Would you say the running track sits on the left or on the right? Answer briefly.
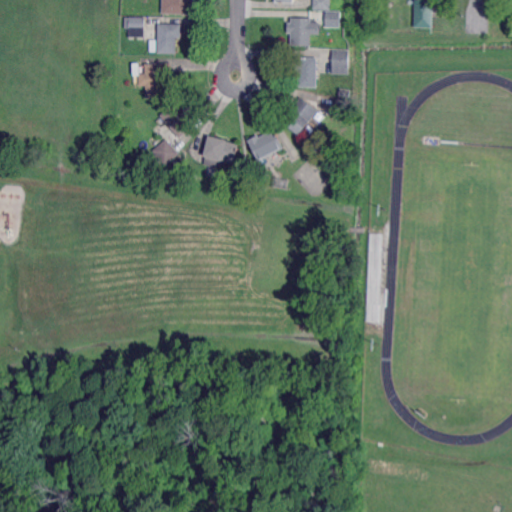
right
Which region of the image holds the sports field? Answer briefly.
right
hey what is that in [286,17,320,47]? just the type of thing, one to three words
house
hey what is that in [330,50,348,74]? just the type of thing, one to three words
building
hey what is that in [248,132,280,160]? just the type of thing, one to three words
house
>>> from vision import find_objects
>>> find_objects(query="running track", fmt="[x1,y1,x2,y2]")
[381,72,512,446]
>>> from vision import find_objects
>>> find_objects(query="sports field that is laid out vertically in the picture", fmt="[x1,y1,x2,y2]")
[392,82,512,434]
